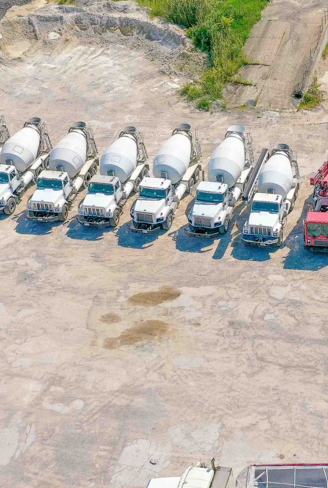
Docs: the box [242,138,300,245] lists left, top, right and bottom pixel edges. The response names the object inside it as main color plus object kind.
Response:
white truck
